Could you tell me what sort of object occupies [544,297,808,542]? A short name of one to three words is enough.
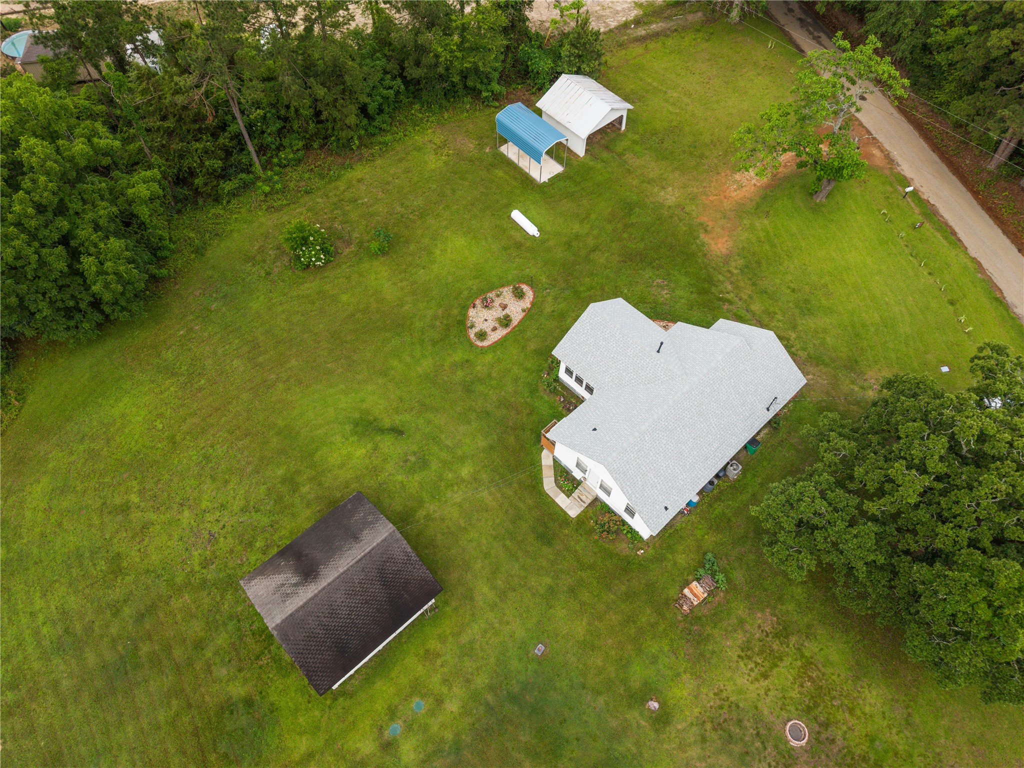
house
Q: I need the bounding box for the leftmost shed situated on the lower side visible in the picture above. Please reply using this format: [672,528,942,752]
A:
[240,492,443,695]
